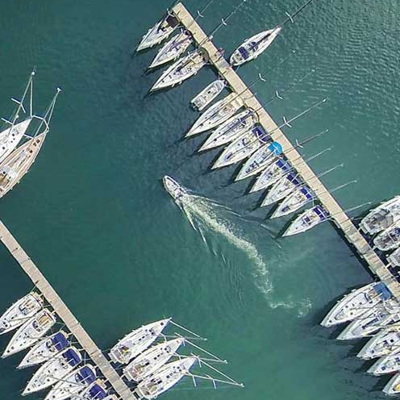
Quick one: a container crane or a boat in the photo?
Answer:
boat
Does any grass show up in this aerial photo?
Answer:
No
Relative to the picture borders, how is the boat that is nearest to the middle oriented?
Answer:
on a diagonal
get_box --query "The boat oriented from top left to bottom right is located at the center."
[163,175,183,203]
